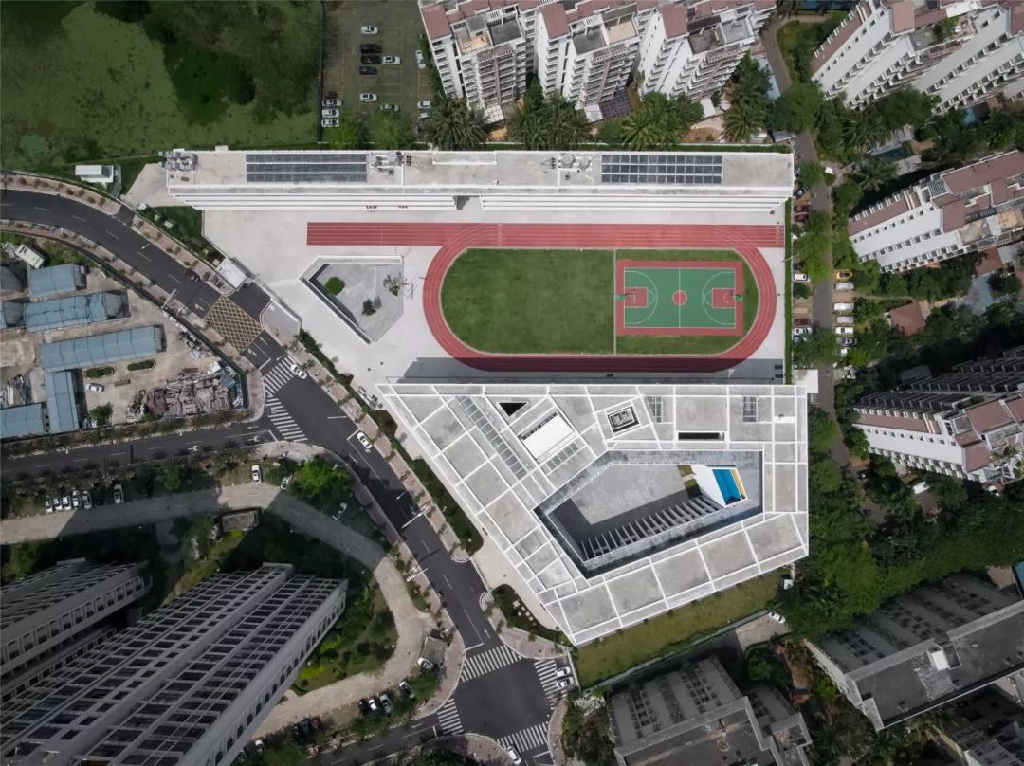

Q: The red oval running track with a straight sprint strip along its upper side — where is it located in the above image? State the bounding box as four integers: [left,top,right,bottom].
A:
[307,222,784,373]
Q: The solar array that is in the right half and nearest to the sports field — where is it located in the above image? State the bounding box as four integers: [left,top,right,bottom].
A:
[601,154,722,182]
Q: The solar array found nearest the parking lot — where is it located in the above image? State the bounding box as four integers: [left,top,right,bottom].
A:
[246,154,368,182]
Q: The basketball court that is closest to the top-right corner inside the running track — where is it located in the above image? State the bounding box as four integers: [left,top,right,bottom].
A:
[616,261,742,335]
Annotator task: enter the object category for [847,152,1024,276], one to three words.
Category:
building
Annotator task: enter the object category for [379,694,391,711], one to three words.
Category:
vehicle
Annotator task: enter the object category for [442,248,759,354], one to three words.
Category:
sports field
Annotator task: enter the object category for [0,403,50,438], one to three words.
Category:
shed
